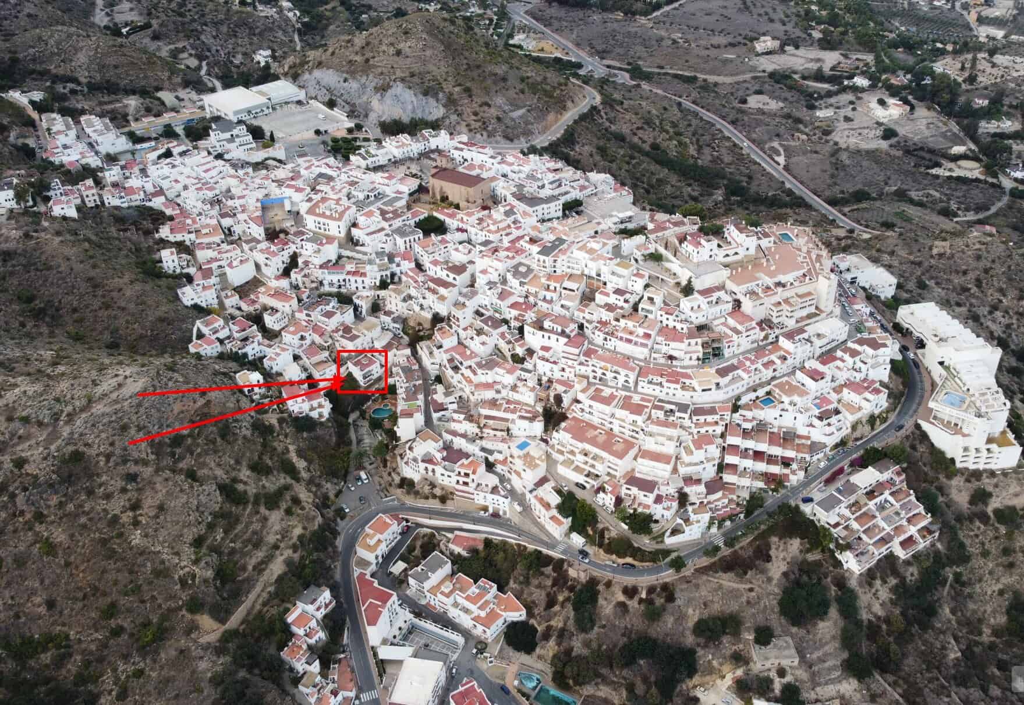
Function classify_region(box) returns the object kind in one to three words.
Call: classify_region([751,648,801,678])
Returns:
house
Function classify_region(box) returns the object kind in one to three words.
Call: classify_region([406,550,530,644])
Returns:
building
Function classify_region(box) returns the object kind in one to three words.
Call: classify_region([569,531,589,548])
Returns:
vehicle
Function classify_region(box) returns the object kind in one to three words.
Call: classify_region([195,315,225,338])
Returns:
house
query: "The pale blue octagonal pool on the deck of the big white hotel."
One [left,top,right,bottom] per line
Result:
[938,390,970,409]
